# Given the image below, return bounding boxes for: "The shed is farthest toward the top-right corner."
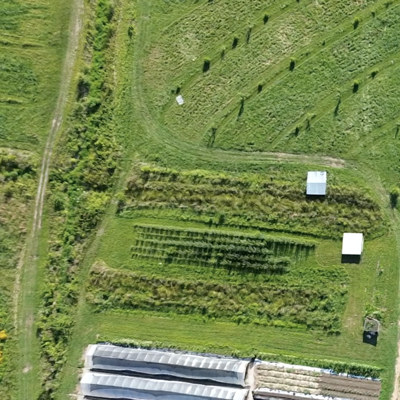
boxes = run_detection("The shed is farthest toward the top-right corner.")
[307,171,327,196]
